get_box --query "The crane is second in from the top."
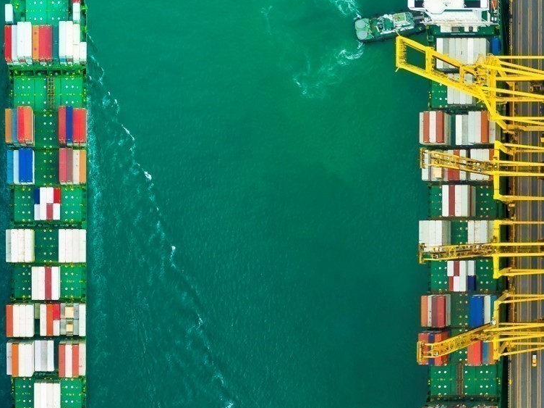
[423,133,544,208]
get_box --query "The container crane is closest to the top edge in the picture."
[397,32,544,134]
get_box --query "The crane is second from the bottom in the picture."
[420,213,544,285]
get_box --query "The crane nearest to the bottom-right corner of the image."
[420,292,544,364]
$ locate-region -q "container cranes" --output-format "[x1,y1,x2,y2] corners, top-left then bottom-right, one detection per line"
[397,32,544,134]
[423,133,544,208]
[420,213,544,285]
[420,292,544,364]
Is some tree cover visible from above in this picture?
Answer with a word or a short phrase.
No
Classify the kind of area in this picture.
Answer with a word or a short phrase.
port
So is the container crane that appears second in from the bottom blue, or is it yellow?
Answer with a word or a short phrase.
yellow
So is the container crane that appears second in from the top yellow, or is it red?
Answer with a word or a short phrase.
yellow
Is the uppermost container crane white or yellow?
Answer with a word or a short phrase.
yellow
